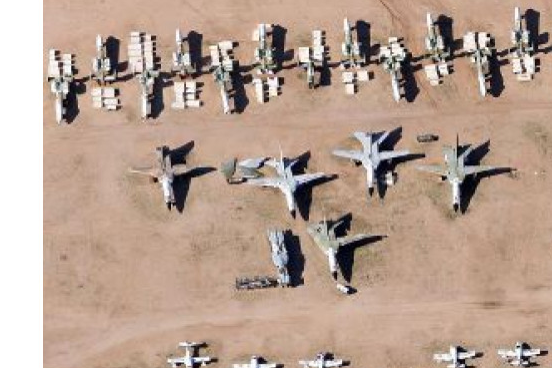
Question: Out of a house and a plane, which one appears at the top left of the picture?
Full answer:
Looking at the top left of the picture, you will find a plane.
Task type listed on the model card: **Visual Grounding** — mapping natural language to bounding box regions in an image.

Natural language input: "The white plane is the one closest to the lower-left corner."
[168,341,210,368]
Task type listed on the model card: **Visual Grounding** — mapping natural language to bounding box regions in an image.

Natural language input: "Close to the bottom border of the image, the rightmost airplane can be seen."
[497,342,540,368]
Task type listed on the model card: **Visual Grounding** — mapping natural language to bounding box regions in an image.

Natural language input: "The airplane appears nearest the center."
[248,145,324,220]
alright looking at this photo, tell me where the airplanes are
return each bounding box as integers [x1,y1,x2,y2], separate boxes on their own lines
[255,23,278,72]
[464,42,488,98]
[210,57,233,115]
[332,120,408,197]
[302,209,372,281]
[299,353,342,368]
[411,145,497,213]
[170,28,194,77]
[339,17,363,65]
[497,342,540,368]
[433,346,476,368]
[248,145,324,220]
[381,47,404,104]
[132,64,156,120]
[129,138,205,212]
[267,229,289,286]
[90,33,114,82]
[46,68,70,124]
[423,13,447,62]
[168,341,210,368]
[512,7,536,56]
[233,356,276,368]
[298,55,321,93]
